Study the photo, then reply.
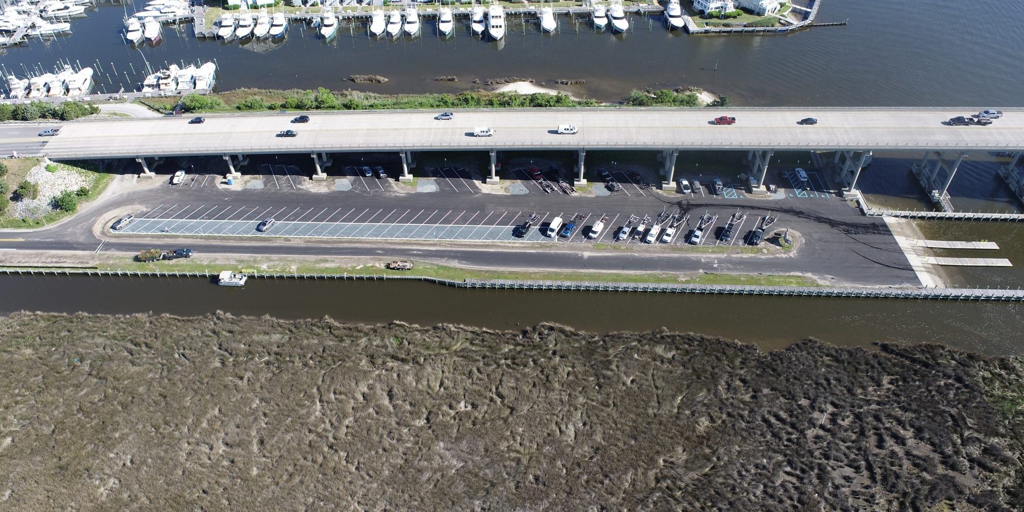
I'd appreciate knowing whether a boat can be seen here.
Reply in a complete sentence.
Yes, a boat can be made out from above.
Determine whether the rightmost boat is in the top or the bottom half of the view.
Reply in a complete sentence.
The top half of the photo is where the rightmost boat is.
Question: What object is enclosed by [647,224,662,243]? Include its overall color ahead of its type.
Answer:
white car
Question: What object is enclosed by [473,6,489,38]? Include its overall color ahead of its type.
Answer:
white boat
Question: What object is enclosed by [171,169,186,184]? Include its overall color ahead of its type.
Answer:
white vehicle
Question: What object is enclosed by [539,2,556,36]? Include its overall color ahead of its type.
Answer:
white boat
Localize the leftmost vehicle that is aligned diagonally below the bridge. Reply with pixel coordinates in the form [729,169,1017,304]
[111,212,135,230]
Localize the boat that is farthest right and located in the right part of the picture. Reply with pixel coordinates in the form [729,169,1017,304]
[662,0,684,32]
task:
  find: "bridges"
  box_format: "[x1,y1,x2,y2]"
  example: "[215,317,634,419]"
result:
[33,106,1024,206]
